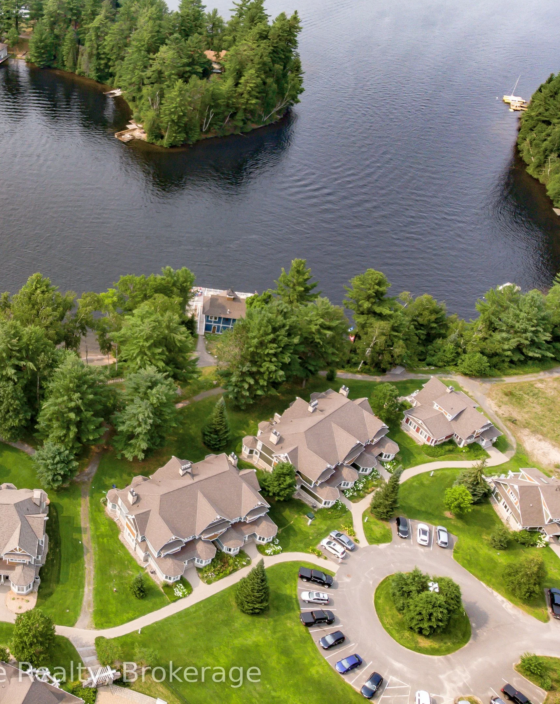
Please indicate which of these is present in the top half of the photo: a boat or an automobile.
boat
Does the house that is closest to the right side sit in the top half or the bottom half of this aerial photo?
bottom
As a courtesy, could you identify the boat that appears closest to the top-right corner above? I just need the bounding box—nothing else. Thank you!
[502,77,528,104]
